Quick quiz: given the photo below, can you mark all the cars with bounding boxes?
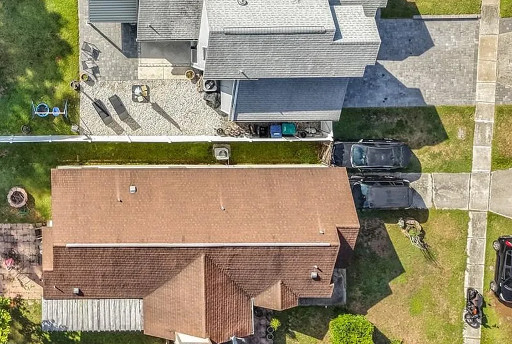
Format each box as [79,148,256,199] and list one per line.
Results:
[328,136,414,177]
[488,233,512,308]
[348,175,415,213]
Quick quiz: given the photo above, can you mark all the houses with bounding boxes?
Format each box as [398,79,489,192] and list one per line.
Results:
[43,163,360,344]
[134,0,388,126]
